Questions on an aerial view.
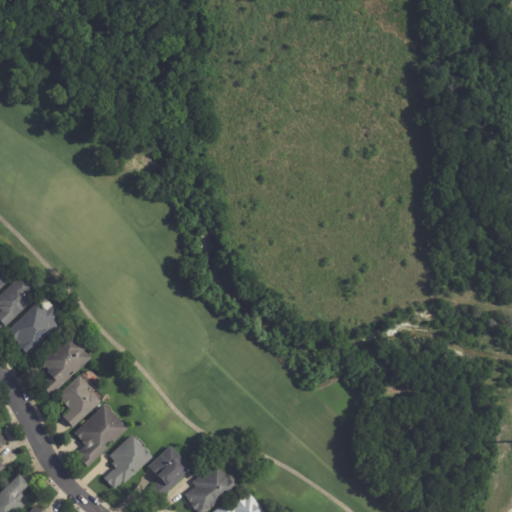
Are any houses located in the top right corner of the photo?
No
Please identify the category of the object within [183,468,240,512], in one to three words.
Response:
house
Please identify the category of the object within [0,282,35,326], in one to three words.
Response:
house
